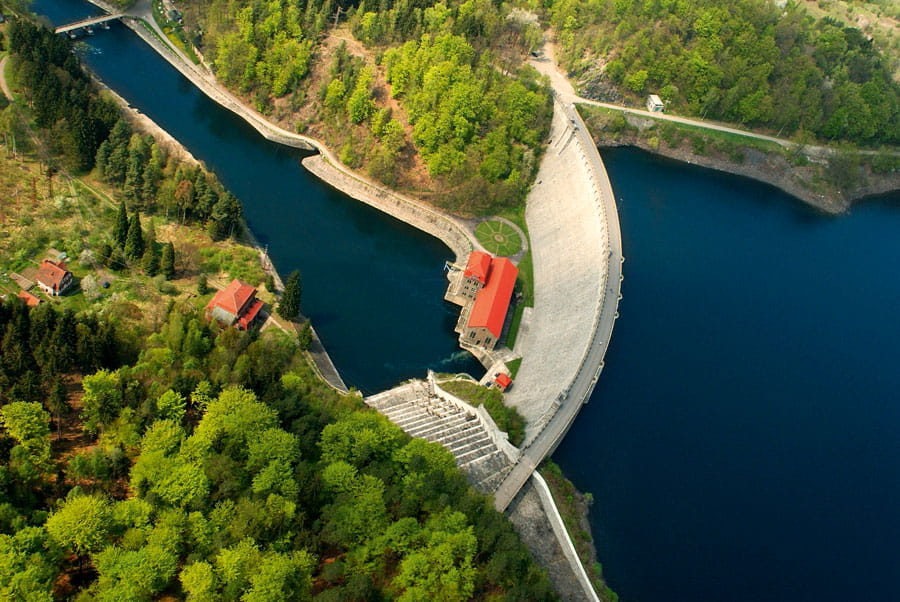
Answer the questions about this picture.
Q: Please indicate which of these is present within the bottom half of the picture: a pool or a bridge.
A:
bridge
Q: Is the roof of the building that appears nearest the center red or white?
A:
red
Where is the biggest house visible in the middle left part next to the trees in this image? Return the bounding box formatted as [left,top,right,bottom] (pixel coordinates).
[203,282,265,337]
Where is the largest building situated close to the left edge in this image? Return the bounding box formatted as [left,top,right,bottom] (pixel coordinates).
[34,262,77,296]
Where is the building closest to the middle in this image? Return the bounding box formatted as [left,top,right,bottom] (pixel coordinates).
[450,249,519,351]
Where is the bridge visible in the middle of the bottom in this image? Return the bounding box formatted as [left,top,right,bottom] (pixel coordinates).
[485,453,535,519]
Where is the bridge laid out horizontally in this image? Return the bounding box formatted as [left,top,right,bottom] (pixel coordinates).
[54,11,127,42]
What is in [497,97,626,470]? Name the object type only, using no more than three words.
dam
